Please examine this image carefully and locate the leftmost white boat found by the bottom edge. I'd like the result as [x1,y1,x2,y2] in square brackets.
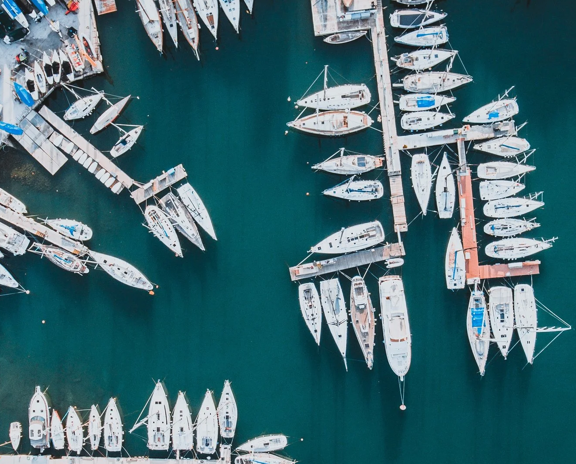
[0,422,23,453]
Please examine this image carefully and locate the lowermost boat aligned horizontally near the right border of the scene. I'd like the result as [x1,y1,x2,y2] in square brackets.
[479,235,559,260]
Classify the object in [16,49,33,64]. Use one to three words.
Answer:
work vehicle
